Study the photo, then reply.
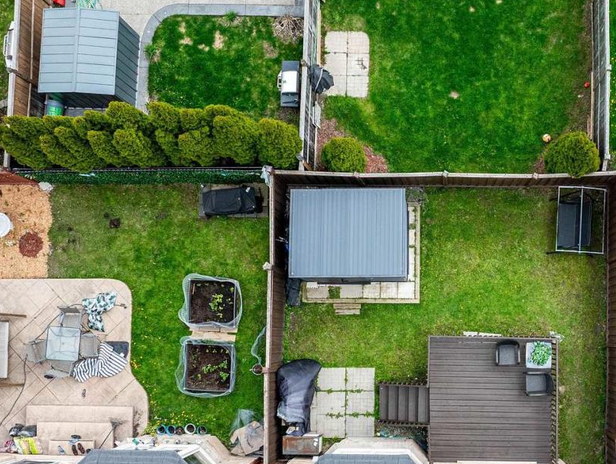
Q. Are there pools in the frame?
No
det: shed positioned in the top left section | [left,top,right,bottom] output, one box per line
[39,4,140,109]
